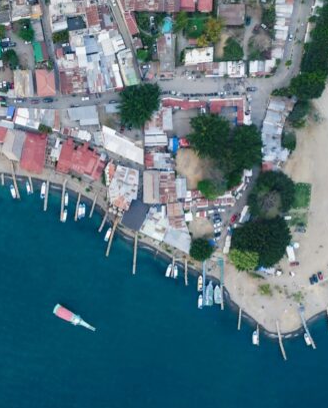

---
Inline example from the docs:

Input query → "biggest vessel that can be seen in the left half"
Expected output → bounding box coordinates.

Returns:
[53,305,96,331]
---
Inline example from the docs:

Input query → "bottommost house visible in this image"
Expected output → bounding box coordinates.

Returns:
[162,229,191,253]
